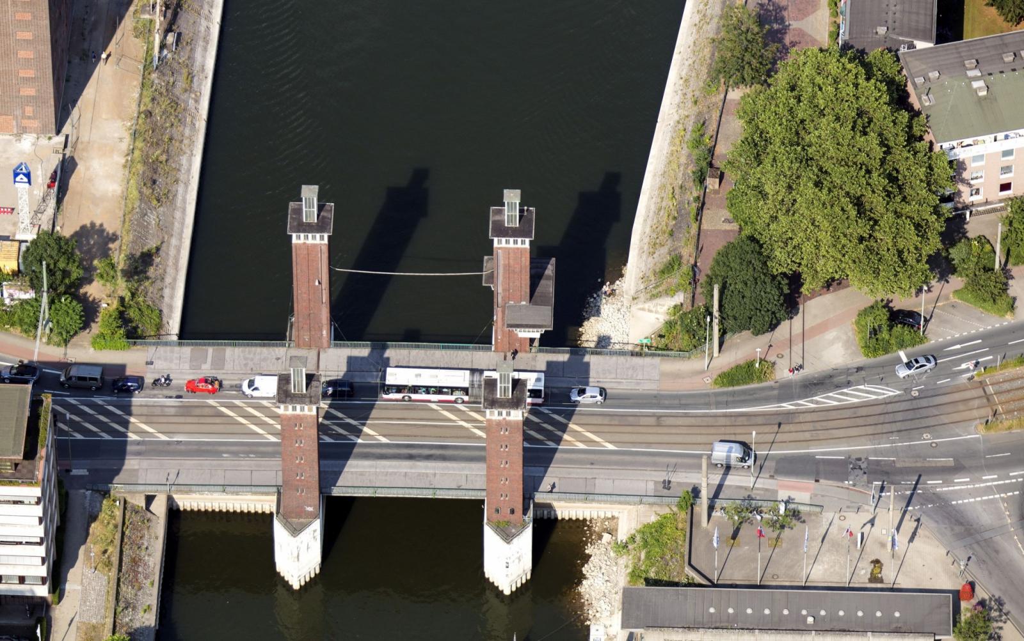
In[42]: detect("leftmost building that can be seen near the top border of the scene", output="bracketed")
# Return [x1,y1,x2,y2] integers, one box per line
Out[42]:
[0,0,72,134]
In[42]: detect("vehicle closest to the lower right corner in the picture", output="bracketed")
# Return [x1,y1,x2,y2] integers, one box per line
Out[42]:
[895,353,938,379]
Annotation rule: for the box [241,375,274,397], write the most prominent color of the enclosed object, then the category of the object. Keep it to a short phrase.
white vehicle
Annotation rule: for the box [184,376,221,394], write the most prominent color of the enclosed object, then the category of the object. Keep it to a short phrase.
red car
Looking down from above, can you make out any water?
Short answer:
Yes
